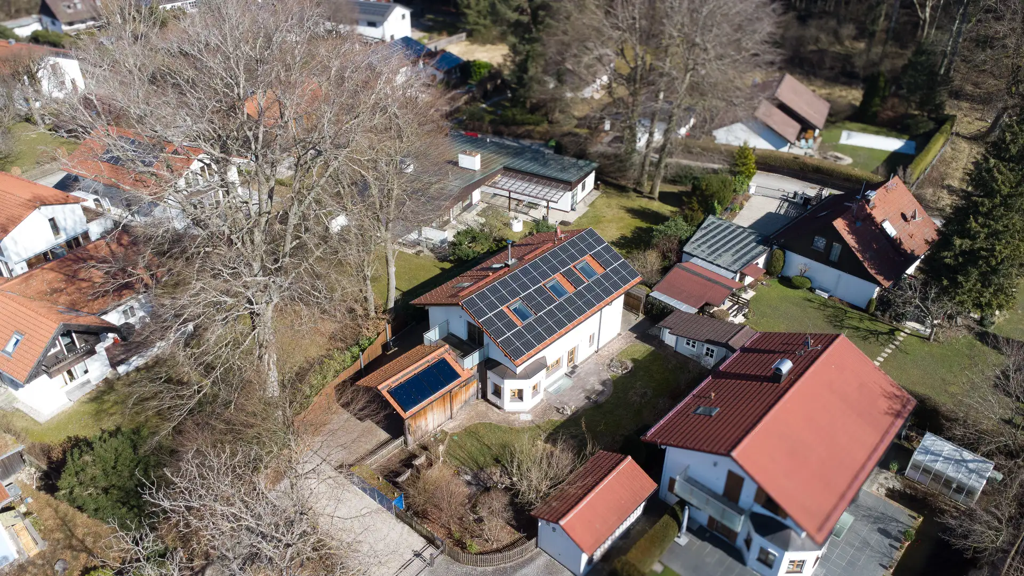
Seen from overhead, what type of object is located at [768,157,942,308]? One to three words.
house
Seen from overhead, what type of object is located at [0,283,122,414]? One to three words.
house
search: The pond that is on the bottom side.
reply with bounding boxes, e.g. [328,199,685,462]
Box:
[902,509,1005,576]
